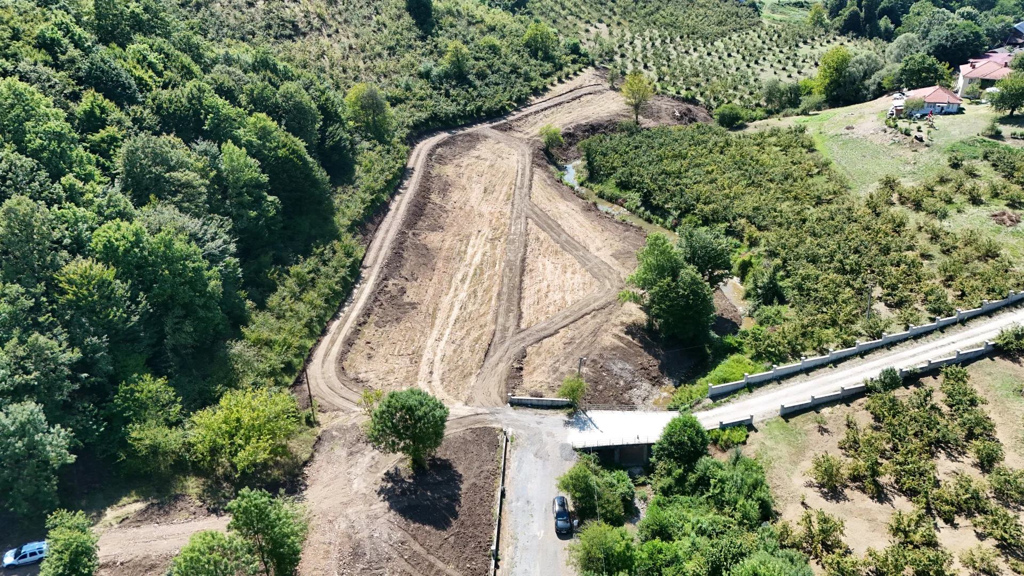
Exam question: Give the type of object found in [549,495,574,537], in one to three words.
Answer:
car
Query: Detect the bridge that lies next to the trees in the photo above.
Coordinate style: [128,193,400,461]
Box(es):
[567,403,685,459]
